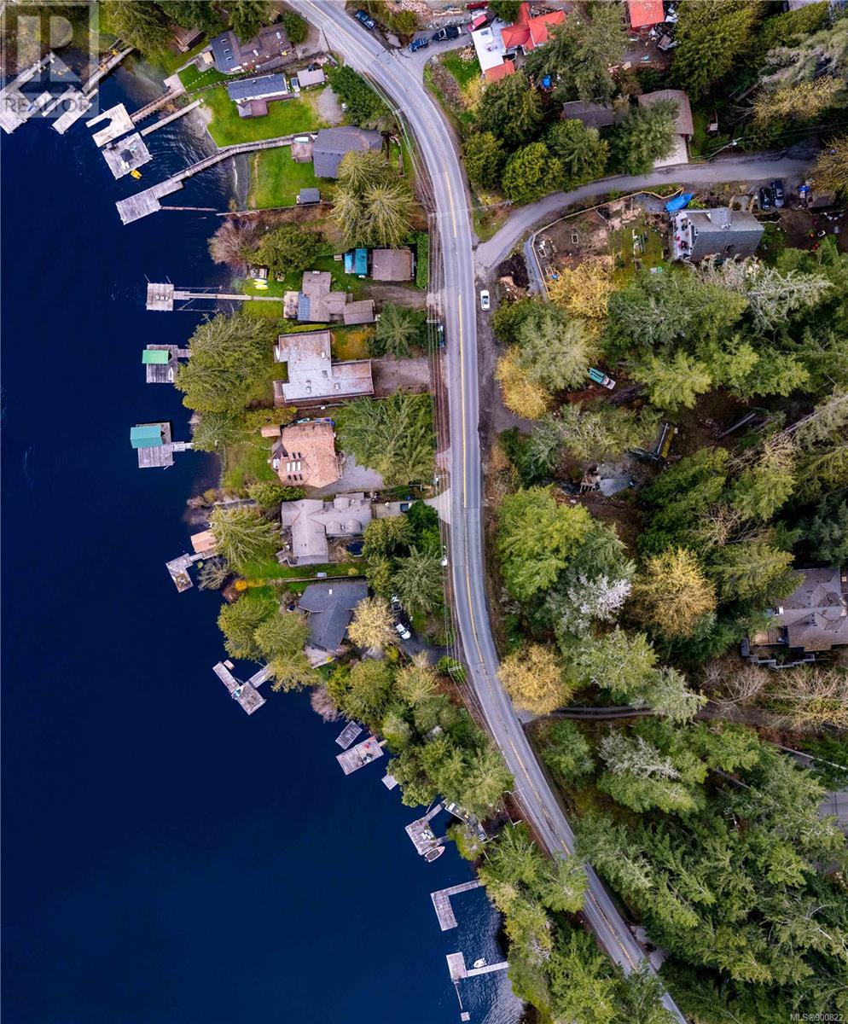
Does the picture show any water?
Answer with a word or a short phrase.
Yes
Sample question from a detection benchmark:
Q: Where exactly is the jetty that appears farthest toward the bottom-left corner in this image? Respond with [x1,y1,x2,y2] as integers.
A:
[212,661,271,716]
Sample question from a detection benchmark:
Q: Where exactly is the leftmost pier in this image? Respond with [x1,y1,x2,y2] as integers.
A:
[0,48,56,135]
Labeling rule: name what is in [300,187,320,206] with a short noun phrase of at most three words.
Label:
shed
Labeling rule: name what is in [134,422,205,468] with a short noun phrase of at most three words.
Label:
pier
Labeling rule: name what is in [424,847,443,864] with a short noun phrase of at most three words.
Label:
boat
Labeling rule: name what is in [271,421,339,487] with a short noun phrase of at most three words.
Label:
house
